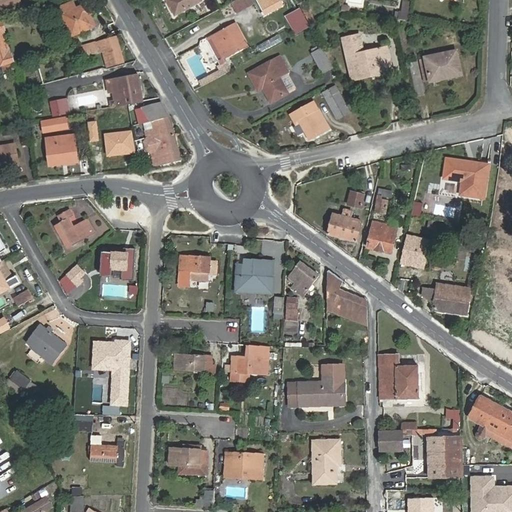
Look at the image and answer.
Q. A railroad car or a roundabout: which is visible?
roundabout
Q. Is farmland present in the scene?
No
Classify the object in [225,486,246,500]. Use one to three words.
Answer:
swimming pool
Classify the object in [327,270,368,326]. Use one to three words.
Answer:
house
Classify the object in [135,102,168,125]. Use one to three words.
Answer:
building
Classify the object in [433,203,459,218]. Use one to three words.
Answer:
swimming pool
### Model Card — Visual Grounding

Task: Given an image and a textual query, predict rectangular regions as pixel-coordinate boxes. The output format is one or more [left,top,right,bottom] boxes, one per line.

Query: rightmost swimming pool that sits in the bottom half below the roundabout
[250,306,265,334]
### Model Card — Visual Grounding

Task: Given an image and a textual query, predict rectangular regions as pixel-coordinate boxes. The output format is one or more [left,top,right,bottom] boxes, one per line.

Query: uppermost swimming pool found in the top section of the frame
[186,52,207,78]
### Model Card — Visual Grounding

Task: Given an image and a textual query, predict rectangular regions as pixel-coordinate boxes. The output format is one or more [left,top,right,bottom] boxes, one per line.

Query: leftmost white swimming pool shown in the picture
[76,93,98,107]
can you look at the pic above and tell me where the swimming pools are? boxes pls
[433,203,459,218]
[225,486,246,500]
[102,284,128,299]
[76,93,98,107]
[186,52,207,78]
[92,384,102,402]
[250,306,265,334]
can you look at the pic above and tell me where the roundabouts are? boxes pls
[189,148,267,226]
